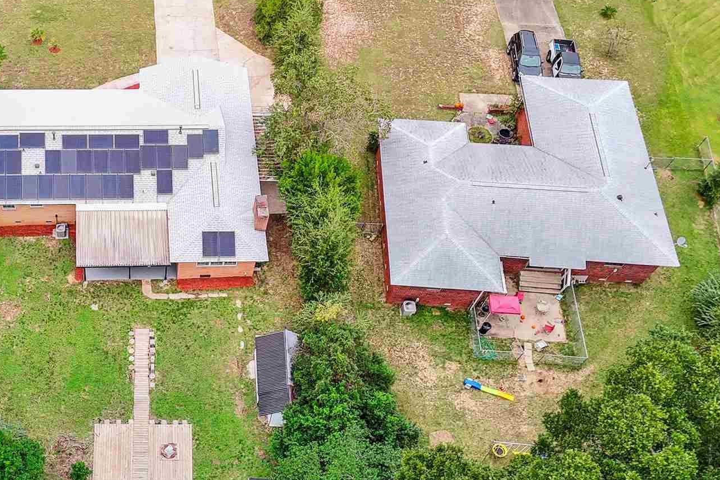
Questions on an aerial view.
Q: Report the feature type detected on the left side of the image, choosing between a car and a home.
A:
home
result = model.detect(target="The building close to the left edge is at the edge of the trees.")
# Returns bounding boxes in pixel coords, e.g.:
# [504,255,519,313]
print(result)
[0,53,270,283]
